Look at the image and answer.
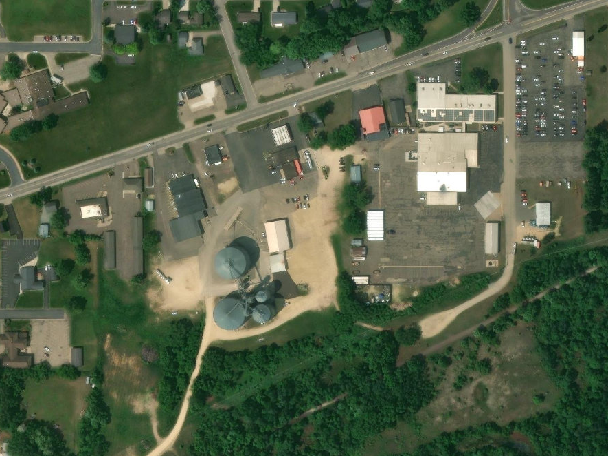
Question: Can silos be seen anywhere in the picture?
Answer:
Yes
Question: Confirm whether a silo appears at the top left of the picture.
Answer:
No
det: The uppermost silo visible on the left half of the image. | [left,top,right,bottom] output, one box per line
[214,247,246,279]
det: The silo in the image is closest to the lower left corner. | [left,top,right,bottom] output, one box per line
[212,298,245,330]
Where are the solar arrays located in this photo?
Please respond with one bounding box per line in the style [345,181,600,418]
[454,110,474,122]
[437,110,453,122]
[484,111,494,122]
[419,110,435,122]
[475,110,483,122]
